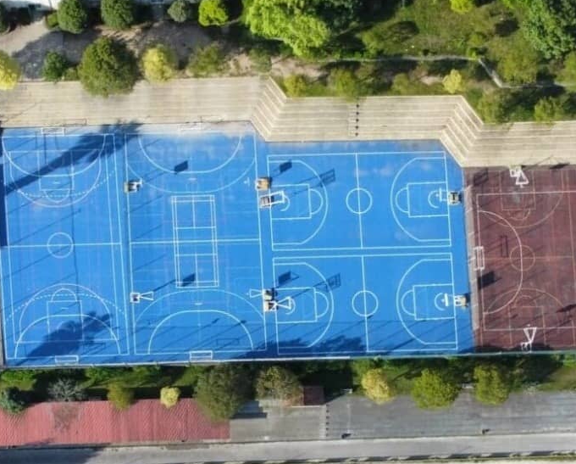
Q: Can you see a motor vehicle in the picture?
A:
No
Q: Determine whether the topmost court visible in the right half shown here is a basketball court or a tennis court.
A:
basketball court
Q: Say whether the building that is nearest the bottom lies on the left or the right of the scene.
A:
left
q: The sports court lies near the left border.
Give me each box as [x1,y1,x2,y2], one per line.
[0,126,132,366]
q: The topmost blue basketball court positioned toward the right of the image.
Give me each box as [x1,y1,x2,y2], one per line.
[262,135,468,255]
